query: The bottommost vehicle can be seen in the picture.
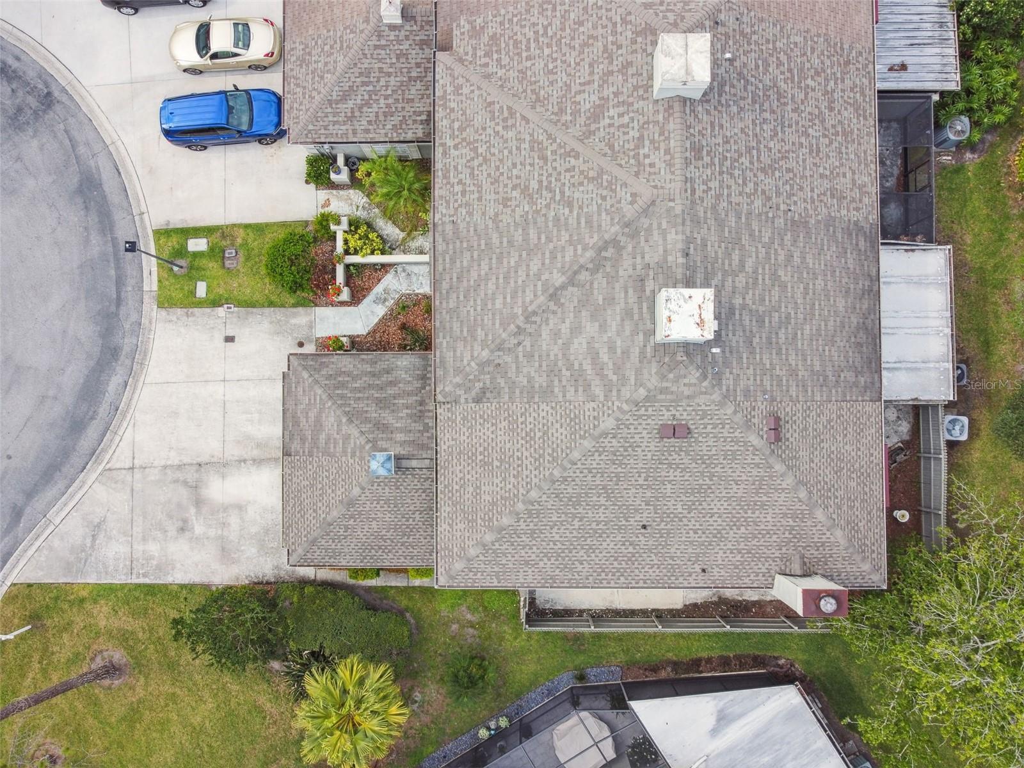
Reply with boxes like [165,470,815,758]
[158,76,292,151]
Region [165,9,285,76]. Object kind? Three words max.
car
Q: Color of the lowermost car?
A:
blue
